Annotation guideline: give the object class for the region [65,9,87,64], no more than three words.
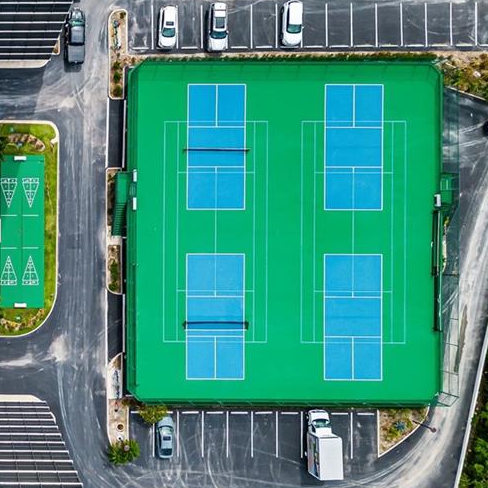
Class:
truck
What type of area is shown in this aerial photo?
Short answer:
sports ground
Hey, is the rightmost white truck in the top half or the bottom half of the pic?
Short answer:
bottom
